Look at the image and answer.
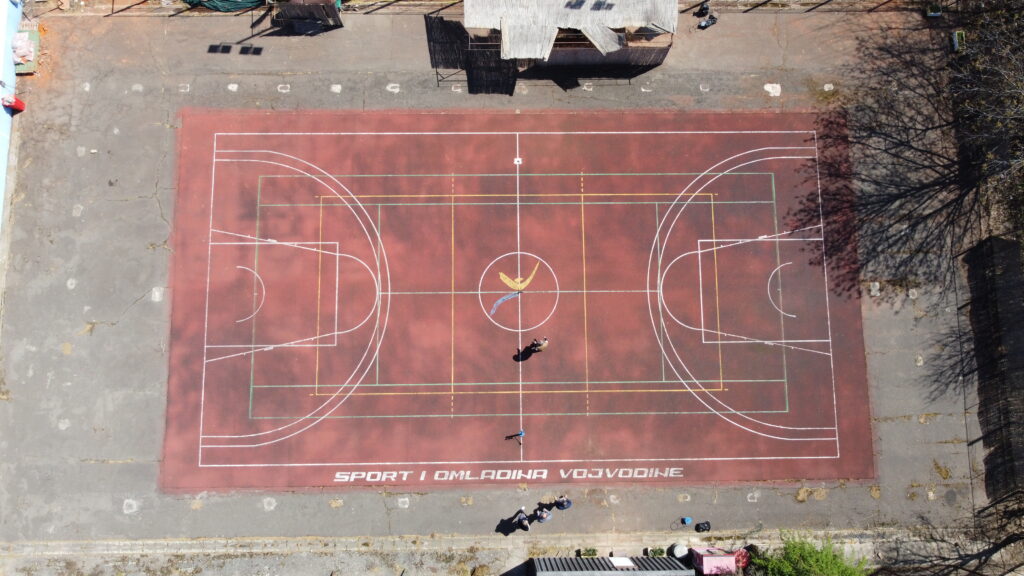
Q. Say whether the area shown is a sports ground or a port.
sports ground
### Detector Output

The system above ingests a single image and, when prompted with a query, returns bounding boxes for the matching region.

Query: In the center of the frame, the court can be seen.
[160,107,877,490]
